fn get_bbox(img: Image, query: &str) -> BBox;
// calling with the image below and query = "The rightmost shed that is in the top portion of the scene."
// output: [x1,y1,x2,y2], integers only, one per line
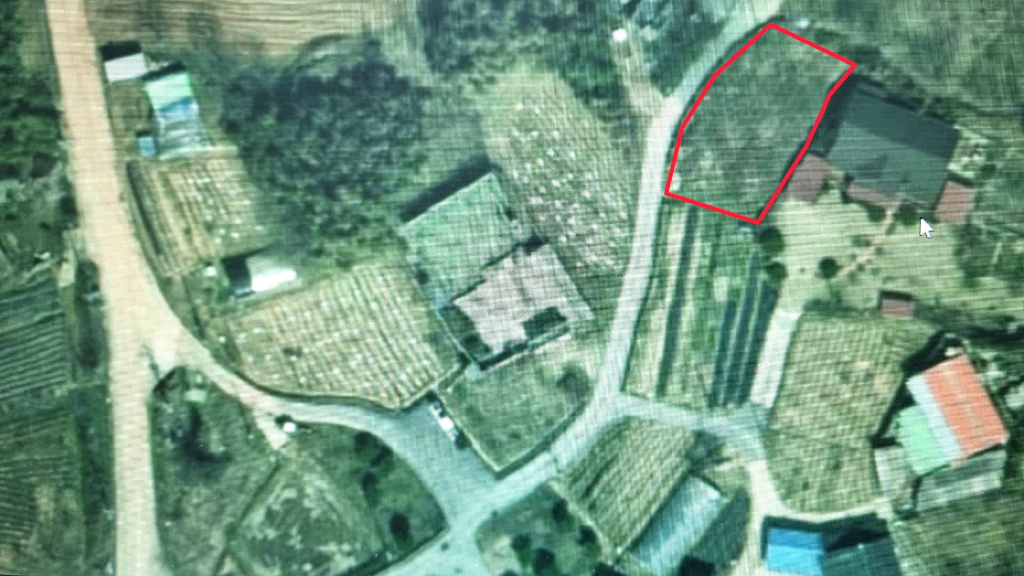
[935,180,975,226]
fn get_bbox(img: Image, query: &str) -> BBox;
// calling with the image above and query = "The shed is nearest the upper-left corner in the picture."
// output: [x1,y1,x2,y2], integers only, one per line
[104,52,148,83]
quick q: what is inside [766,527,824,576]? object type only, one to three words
house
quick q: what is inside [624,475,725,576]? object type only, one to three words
greenhouse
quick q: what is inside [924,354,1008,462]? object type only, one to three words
barn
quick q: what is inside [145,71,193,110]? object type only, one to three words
shed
